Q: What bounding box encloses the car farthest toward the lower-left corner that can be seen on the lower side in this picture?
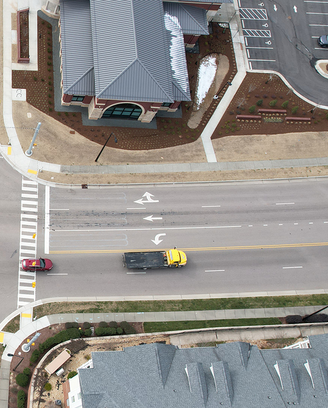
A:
[21,257,52,272]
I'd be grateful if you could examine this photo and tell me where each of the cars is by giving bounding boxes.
[318,34,328,45]
[21,257,52,272]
